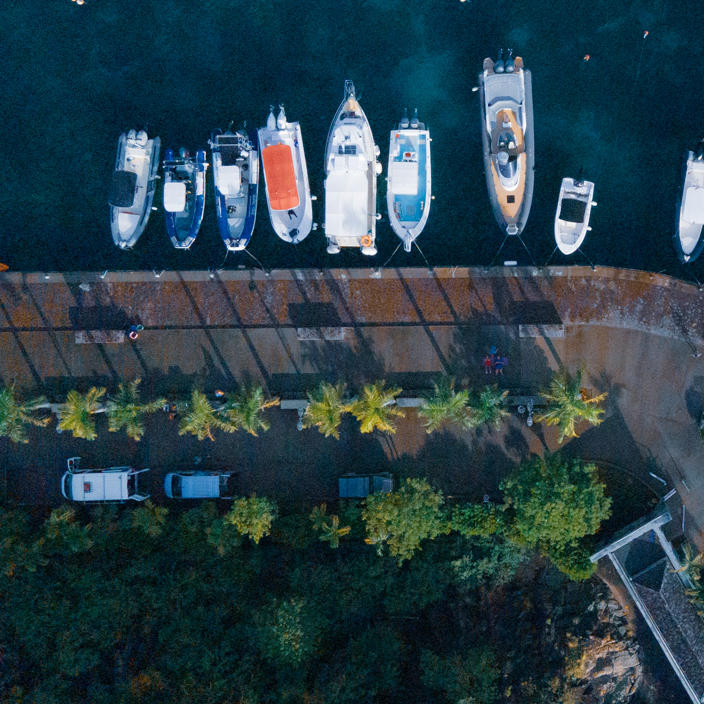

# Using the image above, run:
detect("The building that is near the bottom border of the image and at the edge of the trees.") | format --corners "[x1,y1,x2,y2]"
[590,503,704,704]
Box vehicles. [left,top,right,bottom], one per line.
[62,452,154,504]
[165,470,239,500]
[339,472,394,499]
